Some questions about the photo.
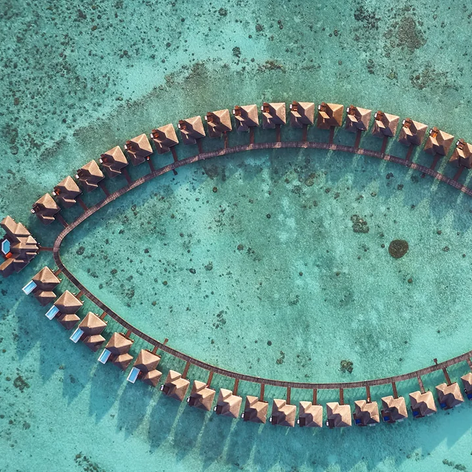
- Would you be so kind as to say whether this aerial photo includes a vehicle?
No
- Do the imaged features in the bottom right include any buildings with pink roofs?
No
